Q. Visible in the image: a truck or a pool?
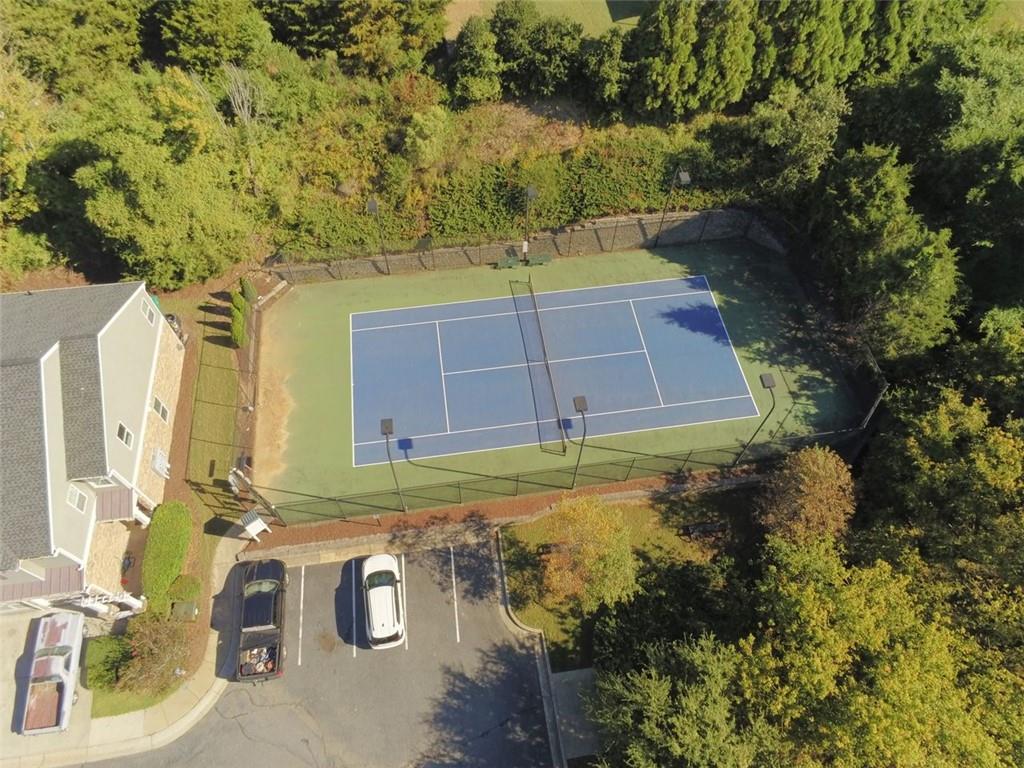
truck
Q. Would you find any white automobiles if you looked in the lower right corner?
No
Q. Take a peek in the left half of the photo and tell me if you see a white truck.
Yes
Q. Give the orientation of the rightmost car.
from top to bottom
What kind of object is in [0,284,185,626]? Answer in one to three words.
house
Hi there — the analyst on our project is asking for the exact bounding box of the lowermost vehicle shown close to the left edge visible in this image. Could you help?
[19,609,92,738]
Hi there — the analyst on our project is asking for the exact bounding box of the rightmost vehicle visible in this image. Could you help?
[359,552,407,648]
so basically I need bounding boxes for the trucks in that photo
[235,557,288,681]
[19,609,92,738]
